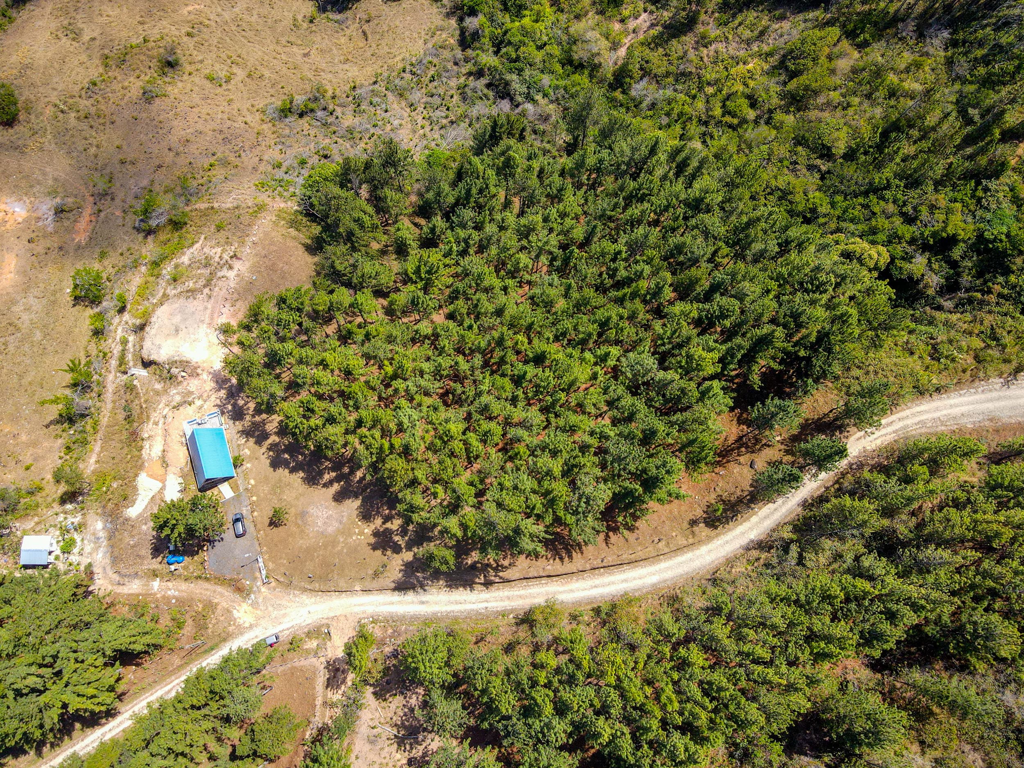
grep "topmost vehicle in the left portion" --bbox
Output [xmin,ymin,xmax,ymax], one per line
[233,512,248,539]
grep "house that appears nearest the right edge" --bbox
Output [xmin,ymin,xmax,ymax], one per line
[175,409,236,492]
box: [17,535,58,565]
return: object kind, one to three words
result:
building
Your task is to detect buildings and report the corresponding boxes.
[175,409,236,492]
[17,535,58,565]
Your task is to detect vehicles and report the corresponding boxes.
[259,632,283,648]
[233,512,248,539]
